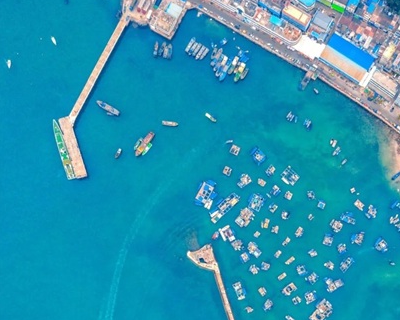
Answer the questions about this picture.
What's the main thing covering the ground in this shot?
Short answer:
water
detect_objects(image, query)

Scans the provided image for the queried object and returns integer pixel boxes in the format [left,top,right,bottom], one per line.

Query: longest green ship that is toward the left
[54,118,72,179]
